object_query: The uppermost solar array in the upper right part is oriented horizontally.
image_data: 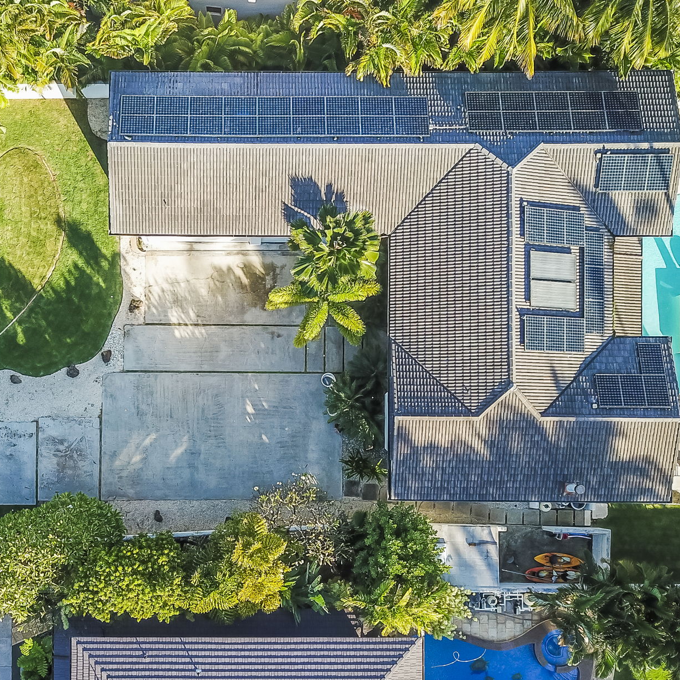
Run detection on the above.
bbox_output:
[465,91,644,131]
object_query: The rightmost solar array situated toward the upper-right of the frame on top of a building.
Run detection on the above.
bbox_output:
[598,155,676,191]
